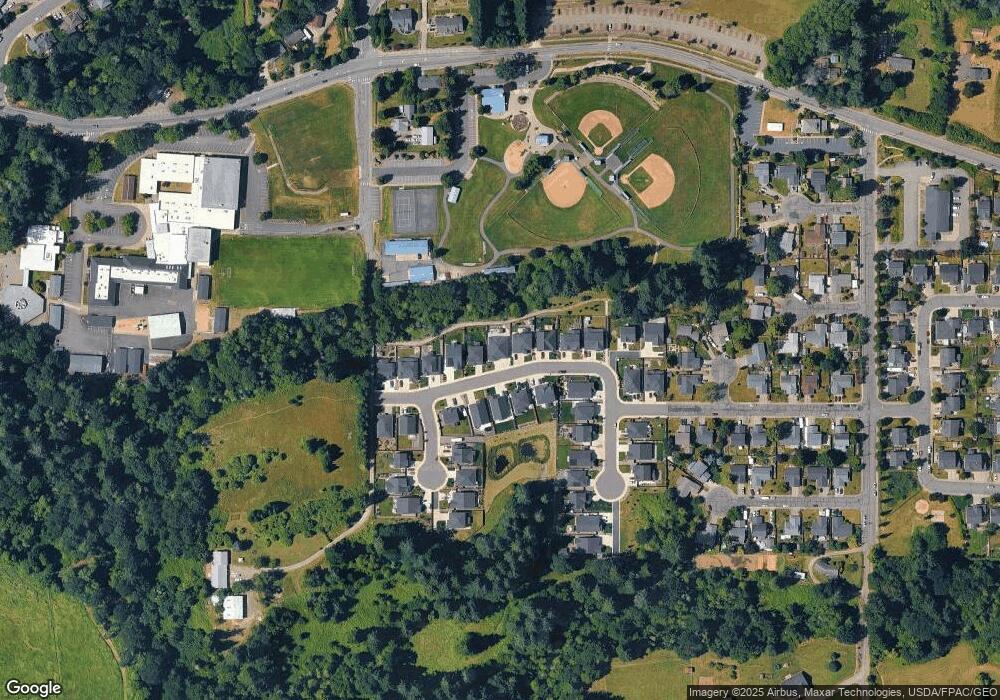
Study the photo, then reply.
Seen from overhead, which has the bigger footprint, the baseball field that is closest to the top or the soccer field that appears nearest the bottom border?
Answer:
the soccer field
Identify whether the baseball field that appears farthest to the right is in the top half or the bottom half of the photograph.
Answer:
top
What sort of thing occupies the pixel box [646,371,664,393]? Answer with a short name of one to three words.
house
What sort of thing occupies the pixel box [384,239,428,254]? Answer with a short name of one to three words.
building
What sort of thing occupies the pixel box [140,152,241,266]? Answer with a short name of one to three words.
building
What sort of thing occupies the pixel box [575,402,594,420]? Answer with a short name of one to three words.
house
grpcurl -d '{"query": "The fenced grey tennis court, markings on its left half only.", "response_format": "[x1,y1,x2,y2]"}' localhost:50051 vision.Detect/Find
[392,188,438,234]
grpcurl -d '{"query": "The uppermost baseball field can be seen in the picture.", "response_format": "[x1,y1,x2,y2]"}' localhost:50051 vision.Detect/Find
[546,82,658,160]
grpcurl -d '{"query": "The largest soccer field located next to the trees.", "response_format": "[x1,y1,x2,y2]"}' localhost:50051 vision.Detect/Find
[216,233,361,309]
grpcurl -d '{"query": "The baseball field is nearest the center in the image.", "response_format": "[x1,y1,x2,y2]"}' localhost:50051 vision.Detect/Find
[508,160,622,242]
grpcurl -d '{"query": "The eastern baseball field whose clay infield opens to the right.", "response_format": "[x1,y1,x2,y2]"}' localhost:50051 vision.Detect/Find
[620,127,700,227]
